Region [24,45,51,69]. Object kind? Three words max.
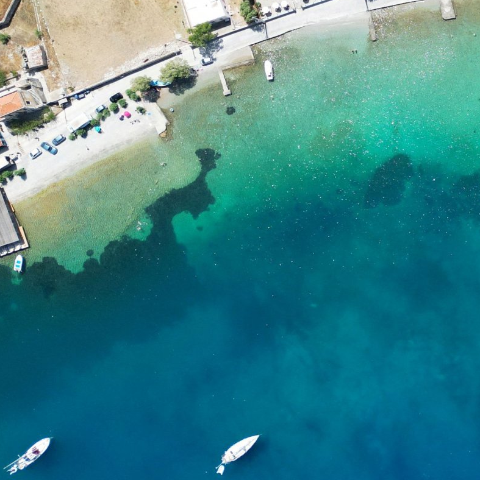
house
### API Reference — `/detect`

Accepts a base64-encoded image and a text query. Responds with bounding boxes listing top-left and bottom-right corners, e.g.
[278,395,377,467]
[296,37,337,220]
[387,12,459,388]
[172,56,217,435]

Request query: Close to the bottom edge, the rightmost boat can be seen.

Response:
[222,436,258,466]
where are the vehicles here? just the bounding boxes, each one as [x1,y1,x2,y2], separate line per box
[27,148,42,160]
[50,133,66,145]
[92,102,107,114]
[199,56,214,66]
[106,92,123,102]
[62,112,92,133]
[0,151,18,169]
[38,141,57,154]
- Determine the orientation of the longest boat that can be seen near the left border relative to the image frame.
on a diagonal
